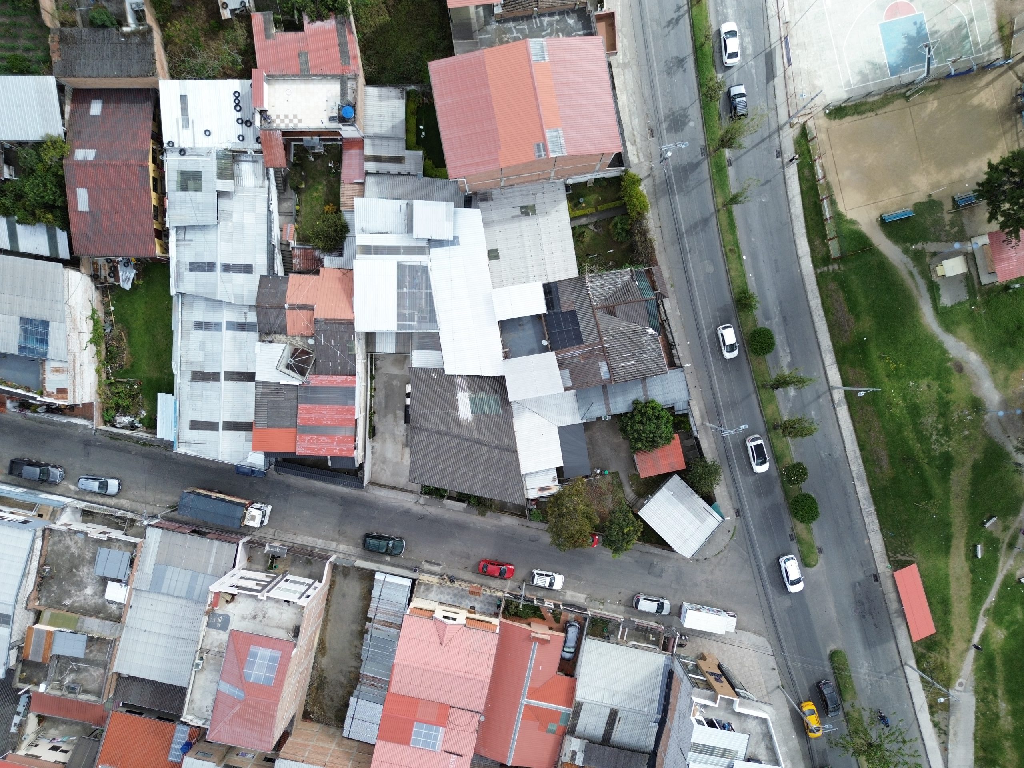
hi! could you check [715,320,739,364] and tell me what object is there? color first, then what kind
white car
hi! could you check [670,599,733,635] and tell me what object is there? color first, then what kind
white truck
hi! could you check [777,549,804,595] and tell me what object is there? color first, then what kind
white car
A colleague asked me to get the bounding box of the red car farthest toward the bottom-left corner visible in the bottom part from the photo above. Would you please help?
[475,558,517,581]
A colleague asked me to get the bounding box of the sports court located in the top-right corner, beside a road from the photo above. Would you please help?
[785,0,1004,114]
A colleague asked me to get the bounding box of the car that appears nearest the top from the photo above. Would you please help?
[718,22,741,69]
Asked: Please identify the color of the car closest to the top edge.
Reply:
white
